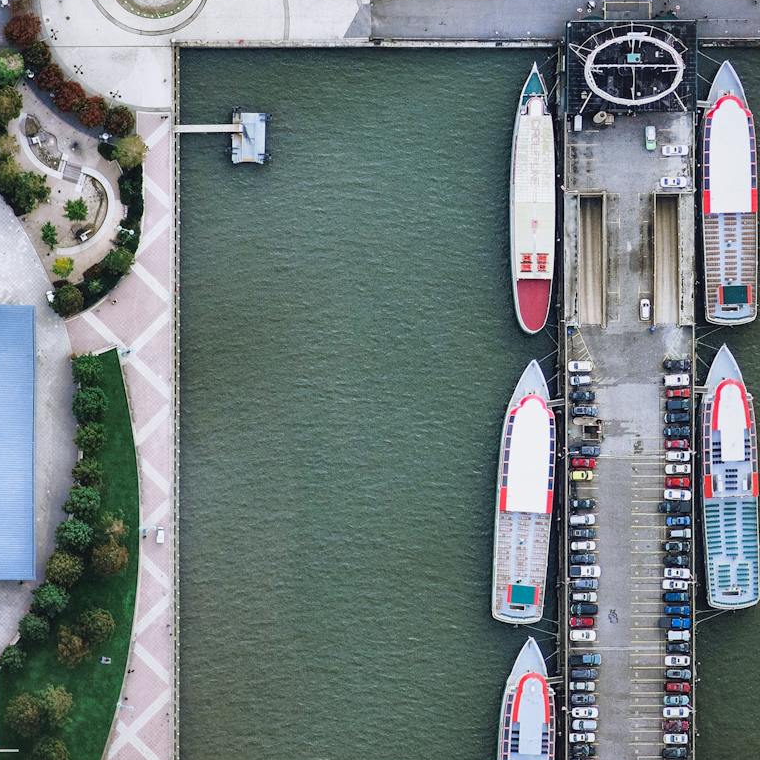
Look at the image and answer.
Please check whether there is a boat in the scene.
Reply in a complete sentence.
Yes, a boat appears in the view.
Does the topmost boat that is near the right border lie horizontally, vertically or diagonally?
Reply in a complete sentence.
The topmost boat that is near the right border has been laid out vertically relative to the frame.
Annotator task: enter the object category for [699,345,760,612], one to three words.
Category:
boat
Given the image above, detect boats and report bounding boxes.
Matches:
[511,62,555,335]
[498,638,555,760]
[699,345,760,612]
[699,60,758,326]
[492,359,556,626]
